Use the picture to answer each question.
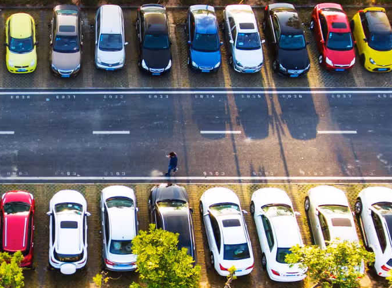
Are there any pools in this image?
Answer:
No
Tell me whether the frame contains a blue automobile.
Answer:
Yes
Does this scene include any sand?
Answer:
No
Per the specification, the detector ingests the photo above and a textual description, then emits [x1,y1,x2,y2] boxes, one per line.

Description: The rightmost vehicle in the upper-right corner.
[349,11,392,74]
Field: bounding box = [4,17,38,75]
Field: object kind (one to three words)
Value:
car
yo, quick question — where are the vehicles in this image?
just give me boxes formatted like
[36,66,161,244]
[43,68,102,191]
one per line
[305,186,366,282]
[95,186,139,273]
[0,189,39,272]
[349,11,392,74]
[262,4,310,79]
[153,186,201,278]
[47,5,84,78]
[44,189,89,273]
[4,17,38,75]
[134,10,173,76]
[205,187,257,279]
[181,5,223,74]
[308,4,357,73]
[222,4,266,75]
[355,186,392,279]
[252,188,308,284]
